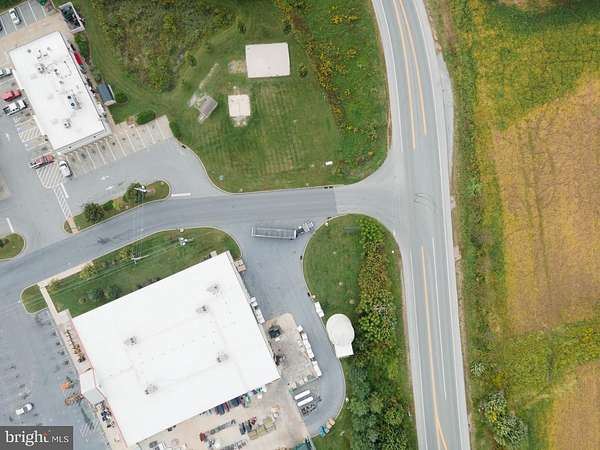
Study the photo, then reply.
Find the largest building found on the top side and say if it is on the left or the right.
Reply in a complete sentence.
You can find the largest building found on the top side on the left side of the picture.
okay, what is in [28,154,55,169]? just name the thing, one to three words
vehicle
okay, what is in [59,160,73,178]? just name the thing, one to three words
car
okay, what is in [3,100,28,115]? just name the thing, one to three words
vehicle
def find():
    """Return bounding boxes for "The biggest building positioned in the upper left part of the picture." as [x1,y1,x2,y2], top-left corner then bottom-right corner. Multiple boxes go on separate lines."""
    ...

[11,30,110,155]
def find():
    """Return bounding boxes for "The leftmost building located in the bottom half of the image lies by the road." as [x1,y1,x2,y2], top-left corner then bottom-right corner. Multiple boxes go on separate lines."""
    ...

[71,250,283,446]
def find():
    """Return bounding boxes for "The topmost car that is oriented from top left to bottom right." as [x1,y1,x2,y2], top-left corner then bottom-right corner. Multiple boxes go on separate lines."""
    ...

[9,8,23,26]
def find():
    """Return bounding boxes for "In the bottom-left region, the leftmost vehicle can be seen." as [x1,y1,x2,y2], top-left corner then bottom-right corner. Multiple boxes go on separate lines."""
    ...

[14,401,35,415]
